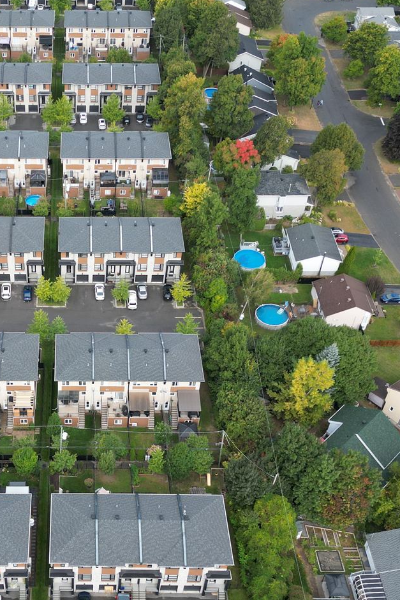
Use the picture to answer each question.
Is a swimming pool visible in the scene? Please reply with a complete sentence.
Yes, a swimming pool appears in the view.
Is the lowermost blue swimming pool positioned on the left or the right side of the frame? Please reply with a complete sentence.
It is on the right.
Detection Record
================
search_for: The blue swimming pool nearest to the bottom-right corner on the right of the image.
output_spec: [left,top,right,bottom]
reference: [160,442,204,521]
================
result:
[254,303,290,331]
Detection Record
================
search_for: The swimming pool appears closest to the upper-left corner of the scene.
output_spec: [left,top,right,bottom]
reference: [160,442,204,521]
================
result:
[25,195,41,208]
